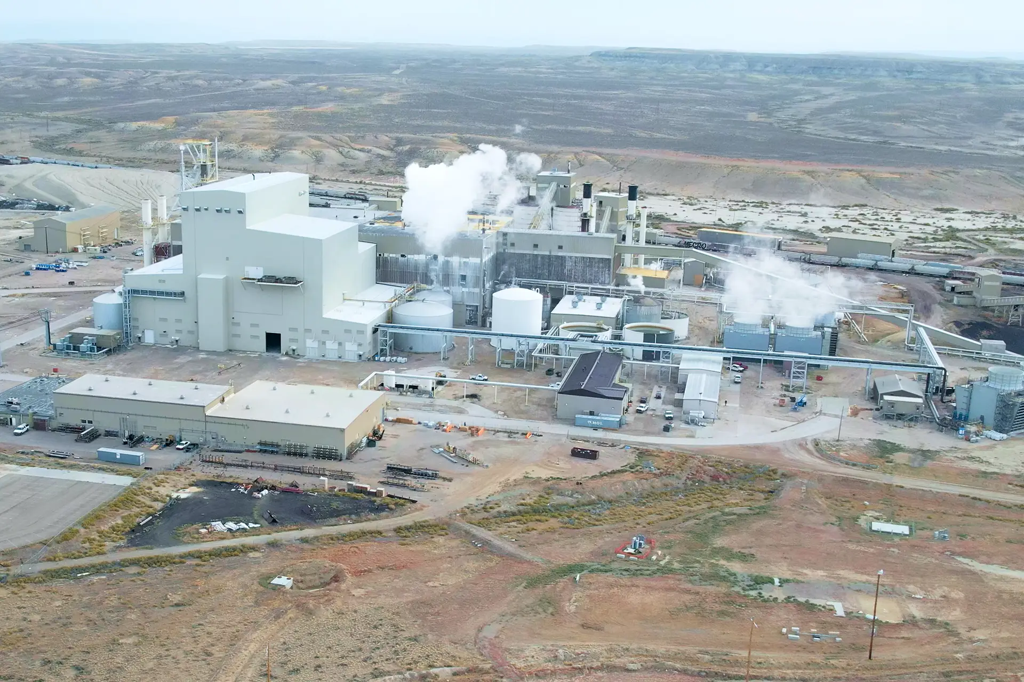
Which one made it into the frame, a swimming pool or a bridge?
bridge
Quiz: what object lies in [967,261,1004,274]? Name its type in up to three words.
rail car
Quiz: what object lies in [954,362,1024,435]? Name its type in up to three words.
cooling tower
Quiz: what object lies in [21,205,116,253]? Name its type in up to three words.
building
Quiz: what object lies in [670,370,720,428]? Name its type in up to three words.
shed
